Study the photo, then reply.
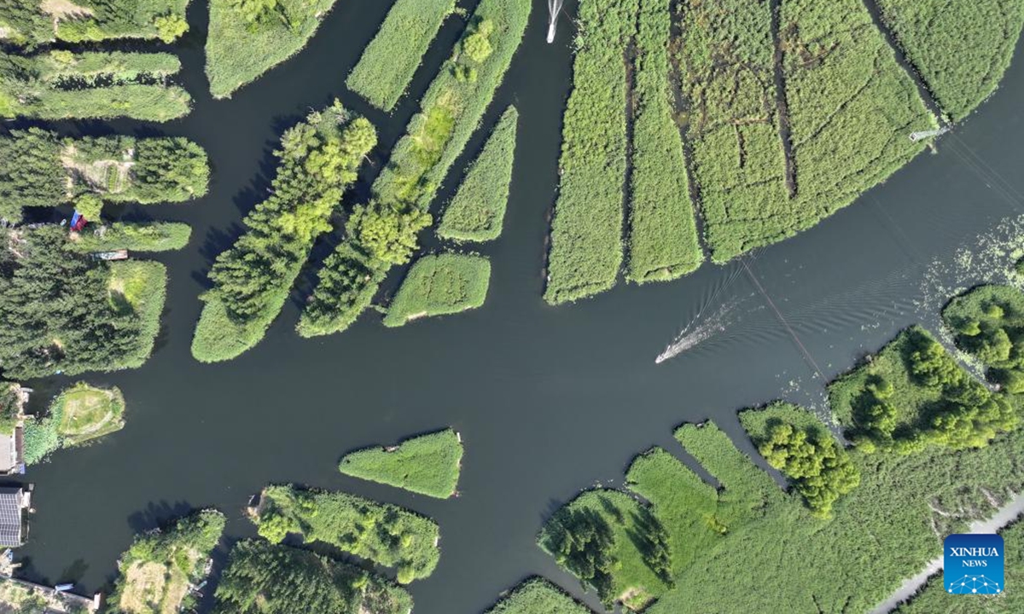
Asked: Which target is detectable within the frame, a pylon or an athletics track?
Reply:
pylon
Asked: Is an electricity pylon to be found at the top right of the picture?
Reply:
Yes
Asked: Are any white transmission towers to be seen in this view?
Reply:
Yes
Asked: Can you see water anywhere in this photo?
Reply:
Yes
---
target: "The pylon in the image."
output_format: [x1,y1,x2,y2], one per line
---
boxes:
[908,118,951,142]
